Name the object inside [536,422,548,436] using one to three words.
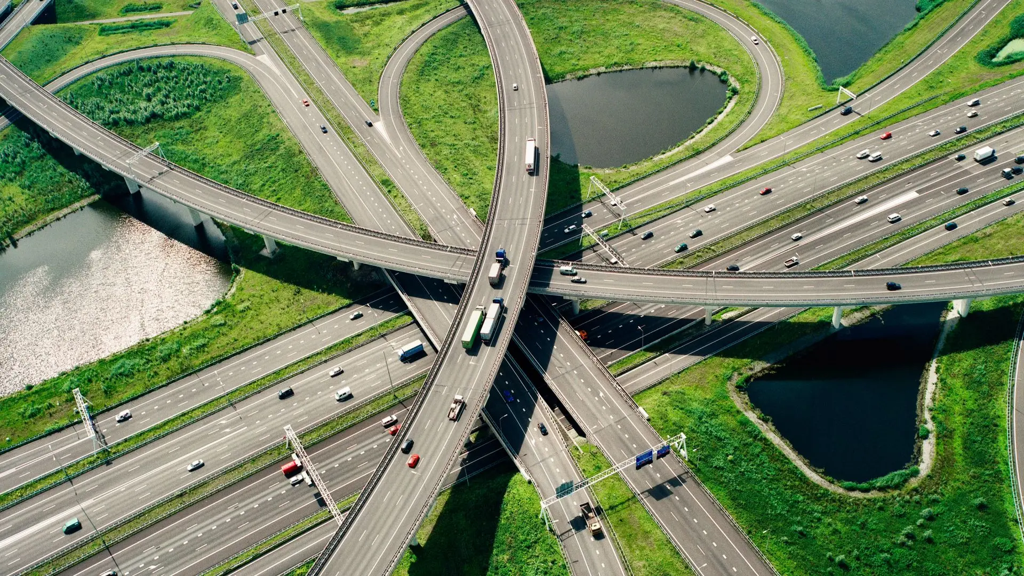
vehicle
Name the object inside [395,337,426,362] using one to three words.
truck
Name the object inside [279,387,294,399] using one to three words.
vehicle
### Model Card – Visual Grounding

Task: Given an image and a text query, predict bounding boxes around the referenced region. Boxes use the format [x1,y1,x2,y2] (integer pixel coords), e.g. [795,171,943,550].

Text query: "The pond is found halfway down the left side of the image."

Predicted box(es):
[0,184,231,396]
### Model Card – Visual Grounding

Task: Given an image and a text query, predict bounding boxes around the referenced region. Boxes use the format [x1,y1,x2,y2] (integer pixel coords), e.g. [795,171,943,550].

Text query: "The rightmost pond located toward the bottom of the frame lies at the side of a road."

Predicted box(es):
[749,300,949,483]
